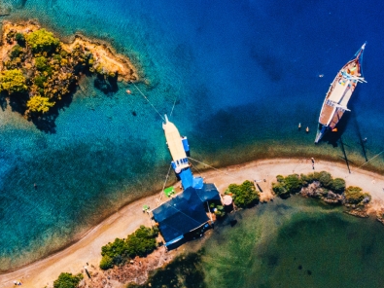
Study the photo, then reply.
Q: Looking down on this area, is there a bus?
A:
No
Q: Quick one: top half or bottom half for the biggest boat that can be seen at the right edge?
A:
top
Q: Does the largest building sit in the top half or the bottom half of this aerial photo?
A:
bottom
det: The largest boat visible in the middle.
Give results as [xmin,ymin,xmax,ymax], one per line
[165,114,195,173]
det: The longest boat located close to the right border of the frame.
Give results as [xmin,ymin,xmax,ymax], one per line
[314,42,375,143]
